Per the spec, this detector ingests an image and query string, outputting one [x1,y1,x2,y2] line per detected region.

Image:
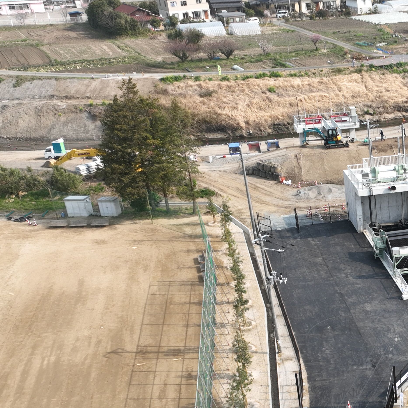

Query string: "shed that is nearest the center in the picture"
[92,189,127,216]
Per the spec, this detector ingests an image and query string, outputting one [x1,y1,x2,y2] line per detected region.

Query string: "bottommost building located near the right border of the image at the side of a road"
[342,139,408,242]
